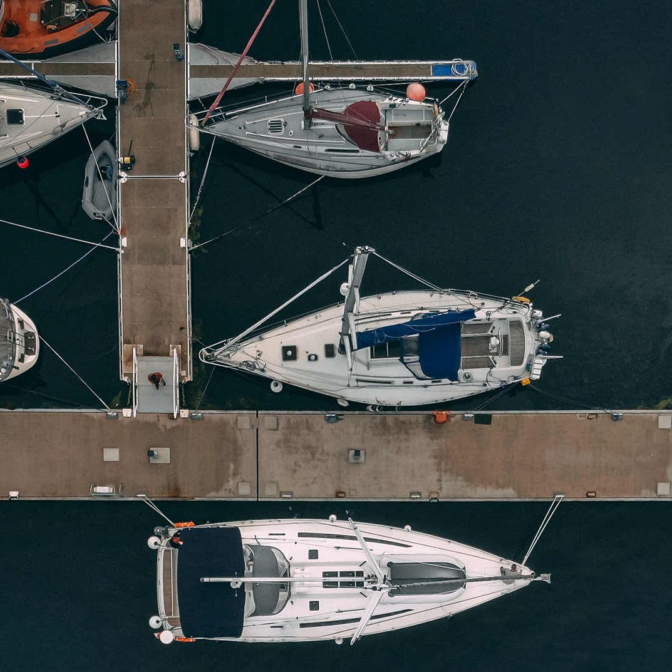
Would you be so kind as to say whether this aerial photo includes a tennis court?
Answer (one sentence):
No, there is no tennis court in the image.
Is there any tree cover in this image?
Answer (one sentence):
No, the picture contains no tree cover.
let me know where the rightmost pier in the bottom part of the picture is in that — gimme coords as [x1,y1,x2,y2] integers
[257,410,672,502]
